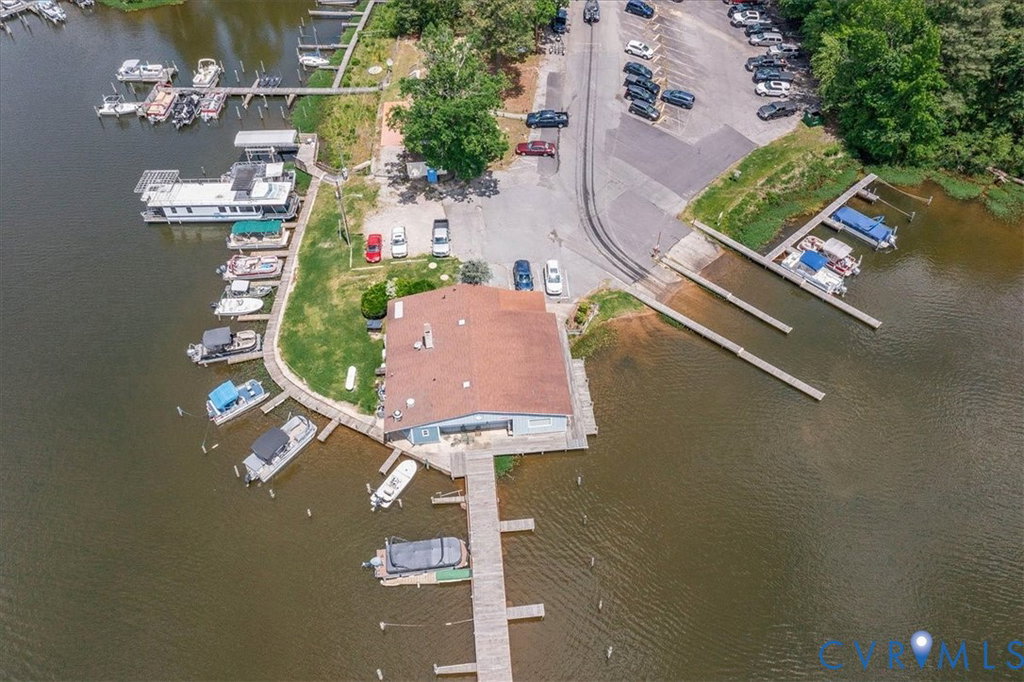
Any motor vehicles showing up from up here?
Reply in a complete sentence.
Yes, there's a motor vehicle here.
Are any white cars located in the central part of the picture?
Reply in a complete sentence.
Yes, I can see a white car in the central part of the picture.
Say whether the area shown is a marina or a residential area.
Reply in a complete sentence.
The area seen from above is a marina.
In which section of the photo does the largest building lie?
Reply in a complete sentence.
You can find the largest building in the center area of the picture.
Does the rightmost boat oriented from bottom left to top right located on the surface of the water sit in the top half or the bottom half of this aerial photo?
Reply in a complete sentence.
The bottom half of the photo is where the rightmost boat oriented from bottom left to top right located on the surface of the water is.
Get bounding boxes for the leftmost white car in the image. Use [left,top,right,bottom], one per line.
[388,224,408,260]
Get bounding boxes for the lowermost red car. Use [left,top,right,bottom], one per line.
[363,232,384,265]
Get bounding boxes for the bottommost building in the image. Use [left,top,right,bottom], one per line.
[384,281,573,448]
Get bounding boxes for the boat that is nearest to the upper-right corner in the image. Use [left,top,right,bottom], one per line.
[833,207,900,253]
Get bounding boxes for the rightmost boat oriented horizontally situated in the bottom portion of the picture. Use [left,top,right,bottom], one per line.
[368,536,469,584]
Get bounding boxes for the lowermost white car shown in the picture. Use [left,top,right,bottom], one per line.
[543,260,564,296]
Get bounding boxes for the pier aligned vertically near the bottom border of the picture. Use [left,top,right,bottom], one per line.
[466,453,509,682]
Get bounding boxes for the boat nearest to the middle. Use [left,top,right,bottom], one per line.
[368,460,415,516]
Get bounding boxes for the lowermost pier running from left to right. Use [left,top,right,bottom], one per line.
[434,660,476,679]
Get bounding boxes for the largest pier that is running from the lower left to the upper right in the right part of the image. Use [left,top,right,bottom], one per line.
[764,176,876,264]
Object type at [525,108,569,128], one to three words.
vehicle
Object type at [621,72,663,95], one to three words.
truck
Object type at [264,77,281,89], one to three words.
boat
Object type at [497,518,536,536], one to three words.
pier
